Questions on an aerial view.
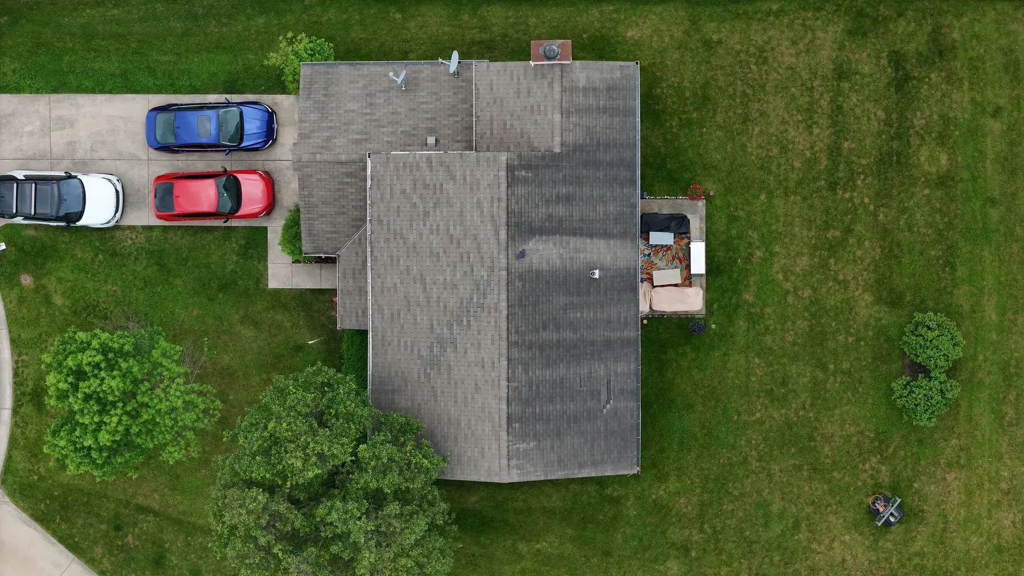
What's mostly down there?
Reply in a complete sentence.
Most of the picture is covered by grass.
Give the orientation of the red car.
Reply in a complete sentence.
I'd say the red car is aligned horizontally in the picture.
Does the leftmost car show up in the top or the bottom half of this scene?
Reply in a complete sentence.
Seen from above, the leftmost car lies in the top half of the view.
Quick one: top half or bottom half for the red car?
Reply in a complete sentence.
The top half of the photo is where the red car is.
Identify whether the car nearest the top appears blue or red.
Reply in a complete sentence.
The color of the car nearest the top is blue.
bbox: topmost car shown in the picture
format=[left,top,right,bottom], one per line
[143,96,278,155]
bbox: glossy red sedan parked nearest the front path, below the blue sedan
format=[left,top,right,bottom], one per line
[149,165,276,223]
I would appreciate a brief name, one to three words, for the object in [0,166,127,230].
car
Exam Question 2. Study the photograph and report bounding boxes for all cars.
[143,96,278,155]
[149,165,276,223]
[0,166,127,230]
